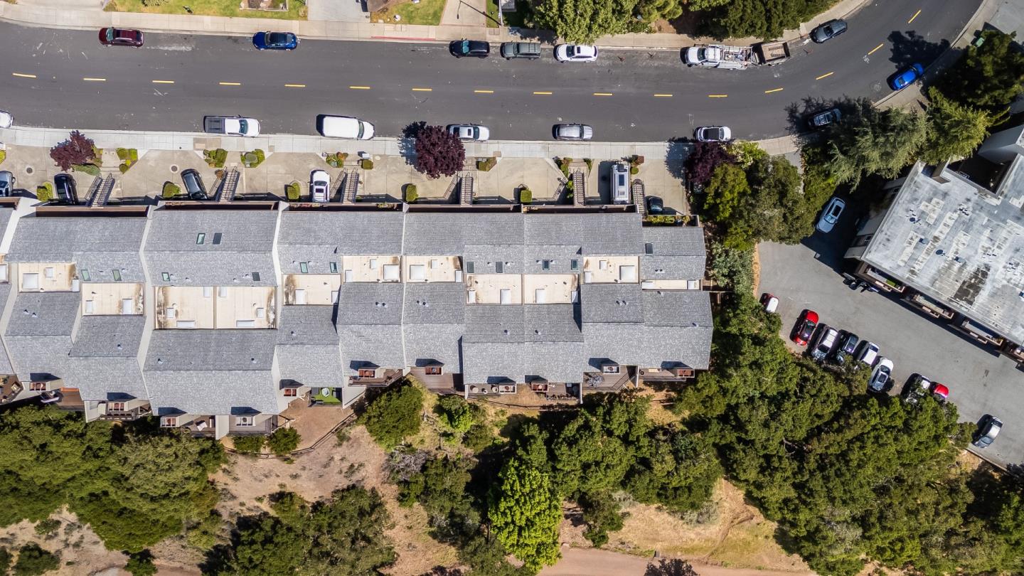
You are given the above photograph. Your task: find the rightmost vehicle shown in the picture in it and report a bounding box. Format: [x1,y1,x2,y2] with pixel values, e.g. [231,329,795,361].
[971,411,1003,450]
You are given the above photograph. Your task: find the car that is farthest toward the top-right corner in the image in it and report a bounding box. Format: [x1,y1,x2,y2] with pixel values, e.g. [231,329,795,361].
[885,62,925,92]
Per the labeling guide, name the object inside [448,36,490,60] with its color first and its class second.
black car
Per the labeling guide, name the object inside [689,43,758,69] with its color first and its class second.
white truck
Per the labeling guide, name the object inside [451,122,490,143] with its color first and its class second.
white car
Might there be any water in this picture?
No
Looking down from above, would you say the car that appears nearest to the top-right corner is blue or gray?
blue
